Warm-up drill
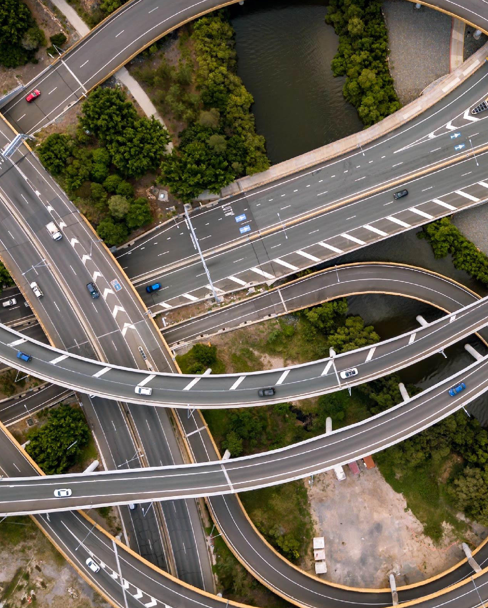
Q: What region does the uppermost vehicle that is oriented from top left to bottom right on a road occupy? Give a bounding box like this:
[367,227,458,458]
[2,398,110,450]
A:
[46,220,62,239]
